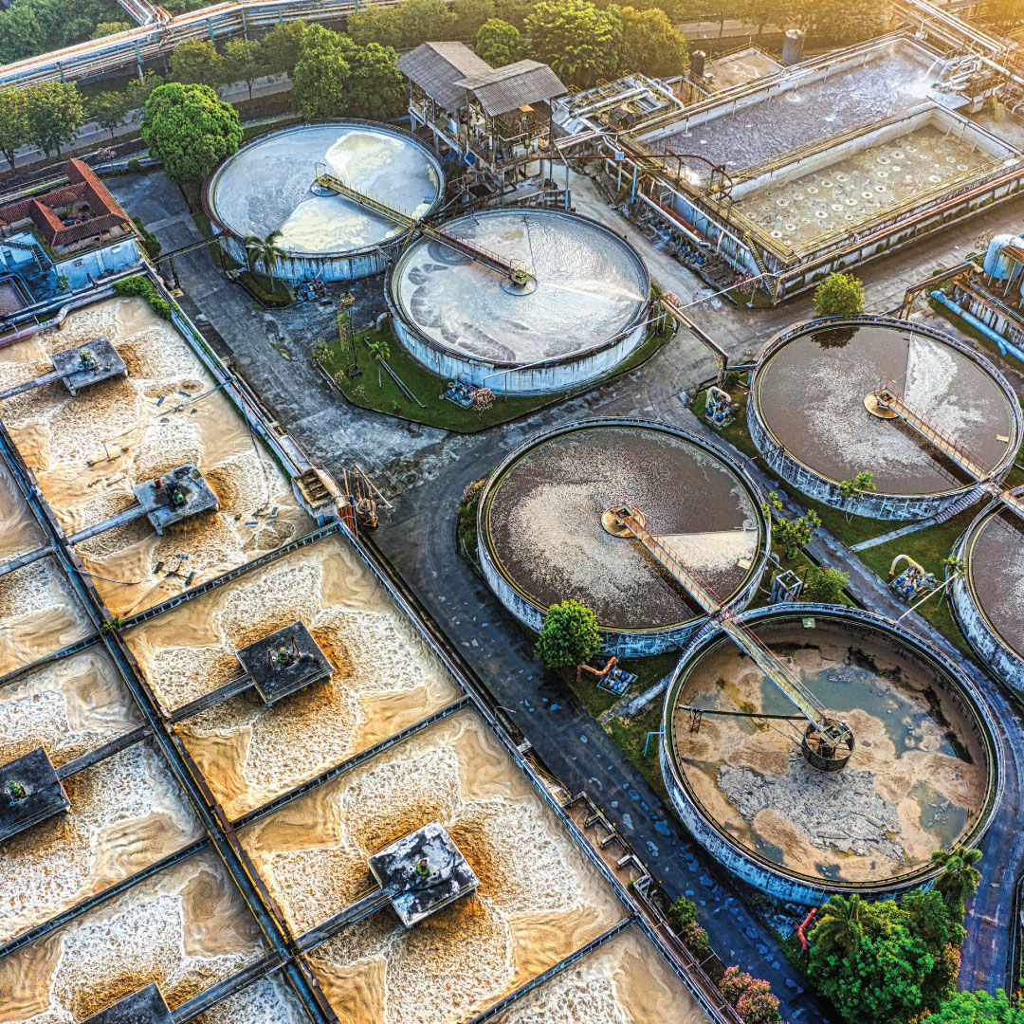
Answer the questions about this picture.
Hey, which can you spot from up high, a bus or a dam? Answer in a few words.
dam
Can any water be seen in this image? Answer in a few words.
Yes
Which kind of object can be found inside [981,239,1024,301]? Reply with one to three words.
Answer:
storage tank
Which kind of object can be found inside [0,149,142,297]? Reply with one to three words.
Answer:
house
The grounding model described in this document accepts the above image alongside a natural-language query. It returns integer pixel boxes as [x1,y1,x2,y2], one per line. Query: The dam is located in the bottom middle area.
[558,791,668,915]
